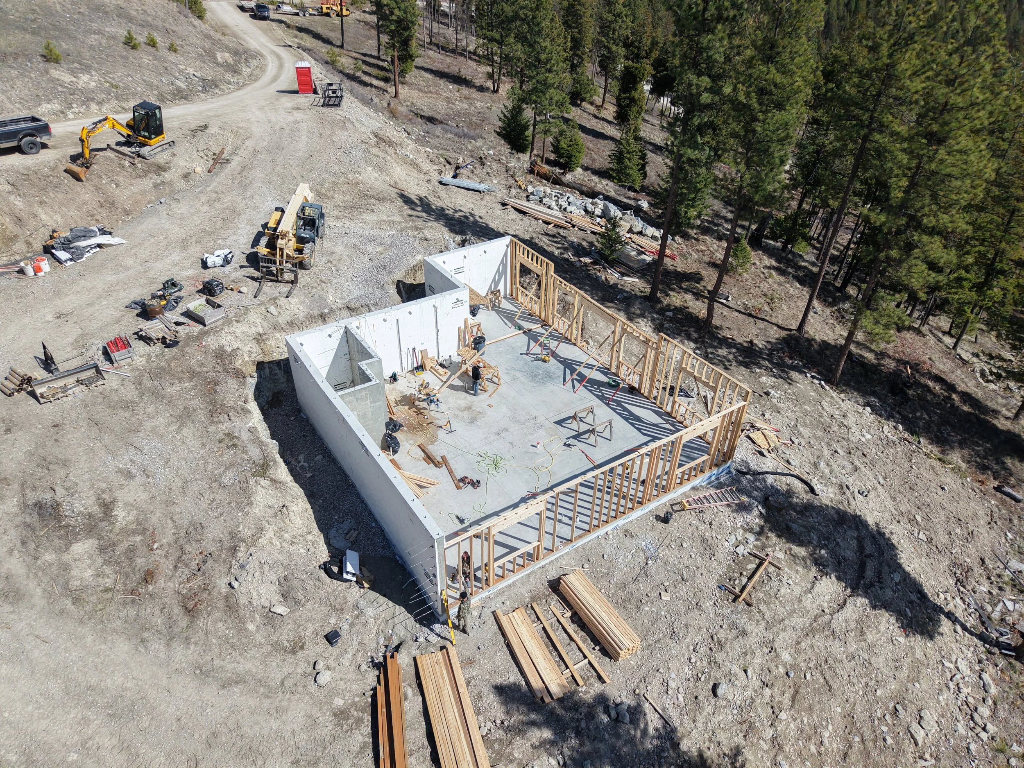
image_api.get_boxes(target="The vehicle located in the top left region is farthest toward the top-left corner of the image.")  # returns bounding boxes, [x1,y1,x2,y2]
[0,118,55,153]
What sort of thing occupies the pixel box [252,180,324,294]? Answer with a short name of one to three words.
work vehicle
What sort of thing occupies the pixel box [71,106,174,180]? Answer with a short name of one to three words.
work vehicle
